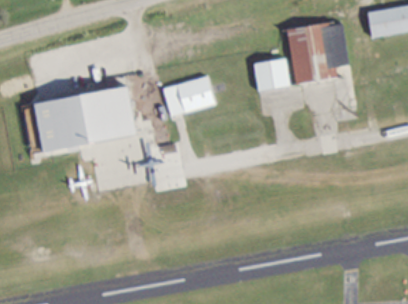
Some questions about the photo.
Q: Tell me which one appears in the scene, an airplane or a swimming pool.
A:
airplane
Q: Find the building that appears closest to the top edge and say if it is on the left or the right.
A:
right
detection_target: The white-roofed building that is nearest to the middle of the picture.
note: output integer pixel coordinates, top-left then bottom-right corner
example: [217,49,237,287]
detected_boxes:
[162,75,216,120]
